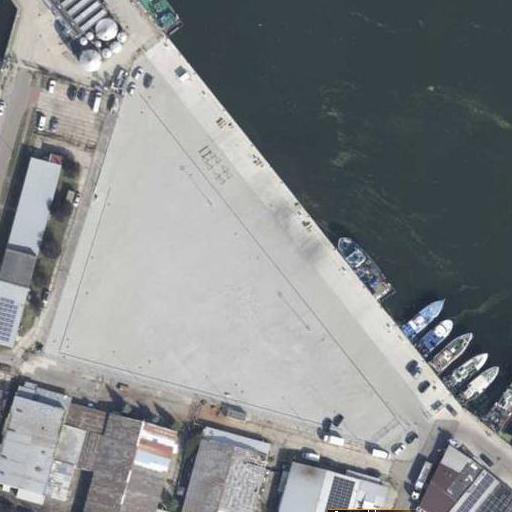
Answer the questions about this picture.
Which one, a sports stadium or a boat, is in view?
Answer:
boat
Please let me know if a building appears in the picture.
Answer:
Yes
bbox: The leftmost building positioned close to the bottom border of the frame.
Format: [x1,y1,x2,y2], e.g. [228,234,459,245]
[0,382,73,506]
